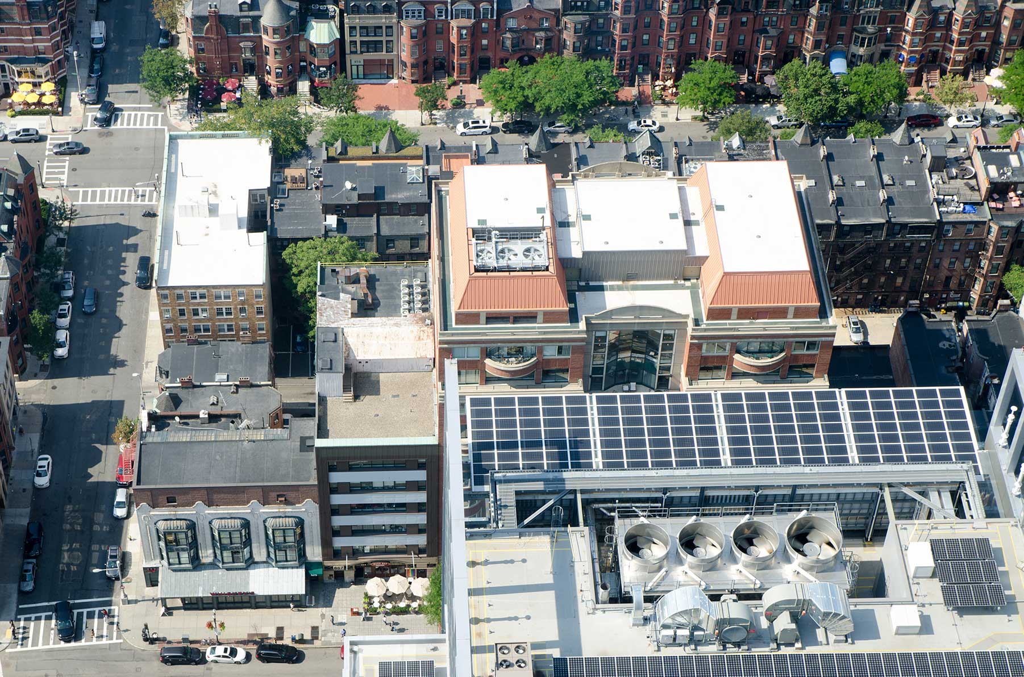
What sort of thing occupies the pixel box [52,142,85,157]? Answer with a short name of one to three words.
car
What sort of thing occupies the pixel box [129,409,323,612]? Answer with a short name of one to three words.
building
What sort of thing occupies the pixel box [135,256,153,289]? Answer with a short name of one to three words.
vehicle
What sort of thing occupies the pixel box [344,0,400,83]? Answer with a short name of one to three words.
building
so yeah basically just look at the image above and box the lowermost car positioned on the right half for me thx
[843,313,864,343]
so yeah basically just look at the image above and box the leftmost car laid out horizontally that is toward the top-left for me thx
[7,127,41,144]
